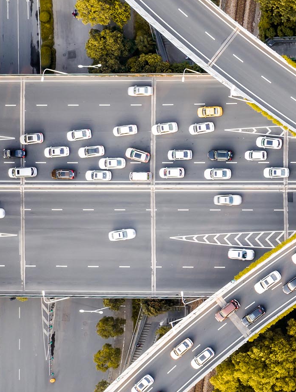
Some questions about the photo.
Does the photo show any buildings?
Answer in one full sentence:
No, there is no building in the image.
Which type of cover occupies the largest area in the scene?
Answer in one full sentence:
Most of the picture is covered by paved ground.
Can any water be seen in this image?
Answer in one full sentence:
No, there's no water in this view.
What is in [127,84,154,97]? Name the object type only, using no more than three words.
vehicle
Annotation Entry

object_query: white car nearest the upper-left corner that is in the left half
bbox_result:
[19,132,47,145]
